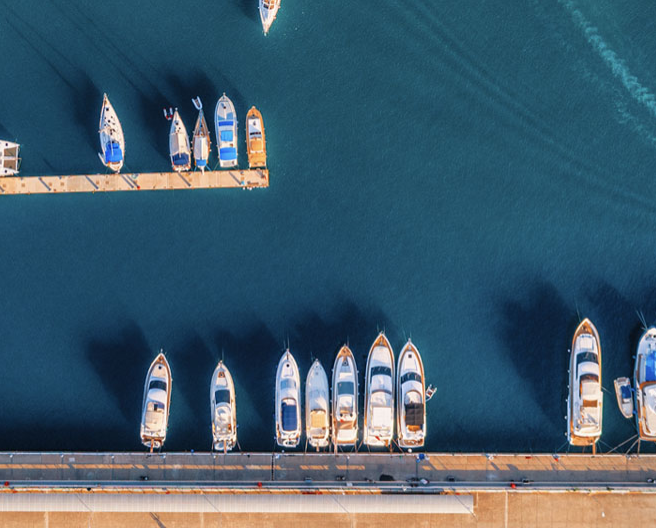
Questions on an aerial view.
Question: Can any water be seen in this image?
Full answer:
Yes, there's water in this view.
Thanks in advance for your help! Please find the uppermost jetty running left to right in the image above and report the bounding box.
[0,170,269,195]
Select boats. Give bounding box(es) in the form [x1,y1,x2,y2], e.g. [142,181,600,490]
[163,106,172,122]
[98,83,133,177]
[326,333,365,459]
[139,338,175,459]
[298,345,338,459]
[241,93,275,172]
[359,314,398,460]
[268,333,307,456]
[425,383,439,399]
[611,375,633,420]
[391,328,434,457]
[213,85,246,171]
[565,306,608,460]
[203,350,246,459]
[0,140,20,175]
[256,0,282,37]
[167,98,195,176]
[191,94,203,112]
[187,95,215,176]
[635,311,656,458]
